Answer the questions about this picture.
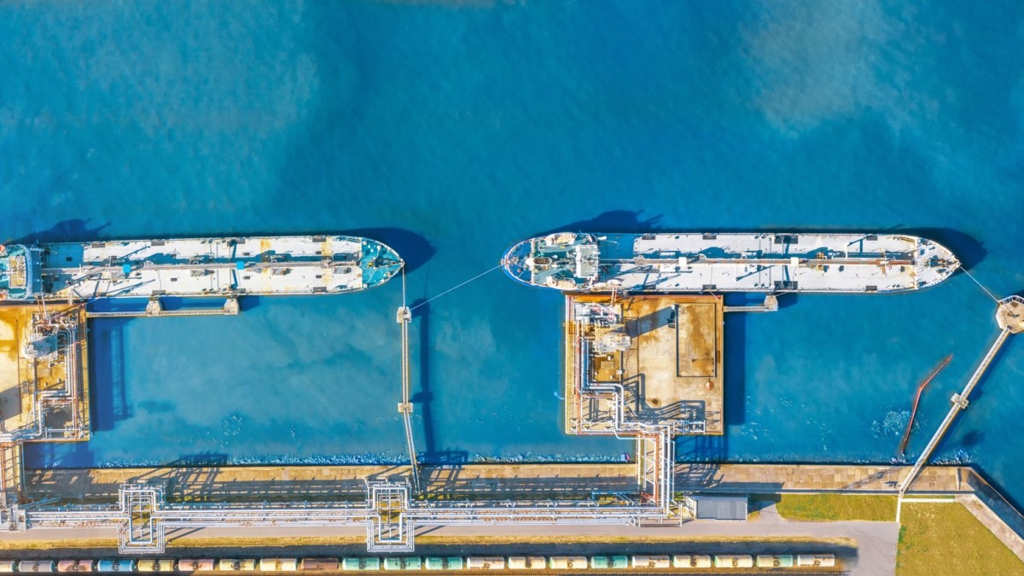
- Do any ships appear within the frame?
Yes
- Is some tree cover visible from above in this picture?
No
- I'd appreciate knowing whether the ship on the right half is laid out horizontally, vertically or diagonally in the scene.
horizontally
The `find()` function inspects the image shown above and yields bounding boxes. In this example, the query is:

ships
[501,232,964,293]
[0,236,412,300]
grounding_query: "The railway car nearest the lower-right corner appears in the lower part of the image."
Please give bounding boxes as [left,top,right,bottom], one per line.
[794,553,836,567]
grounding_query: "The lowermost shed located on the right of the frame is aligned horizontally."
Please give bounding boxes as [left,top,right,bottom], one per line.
[693,494,748,519]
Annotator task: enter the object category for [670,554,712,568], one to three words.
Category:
rail car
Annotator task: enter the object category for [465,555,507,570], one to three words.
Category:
rail car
